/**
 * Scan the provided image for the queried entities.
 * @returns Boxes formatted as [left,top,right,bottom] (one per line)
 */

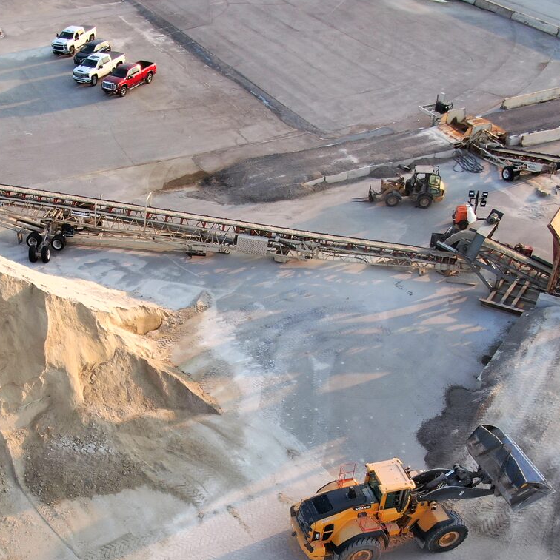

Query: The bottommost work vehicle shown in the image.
[289,415,544,560]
